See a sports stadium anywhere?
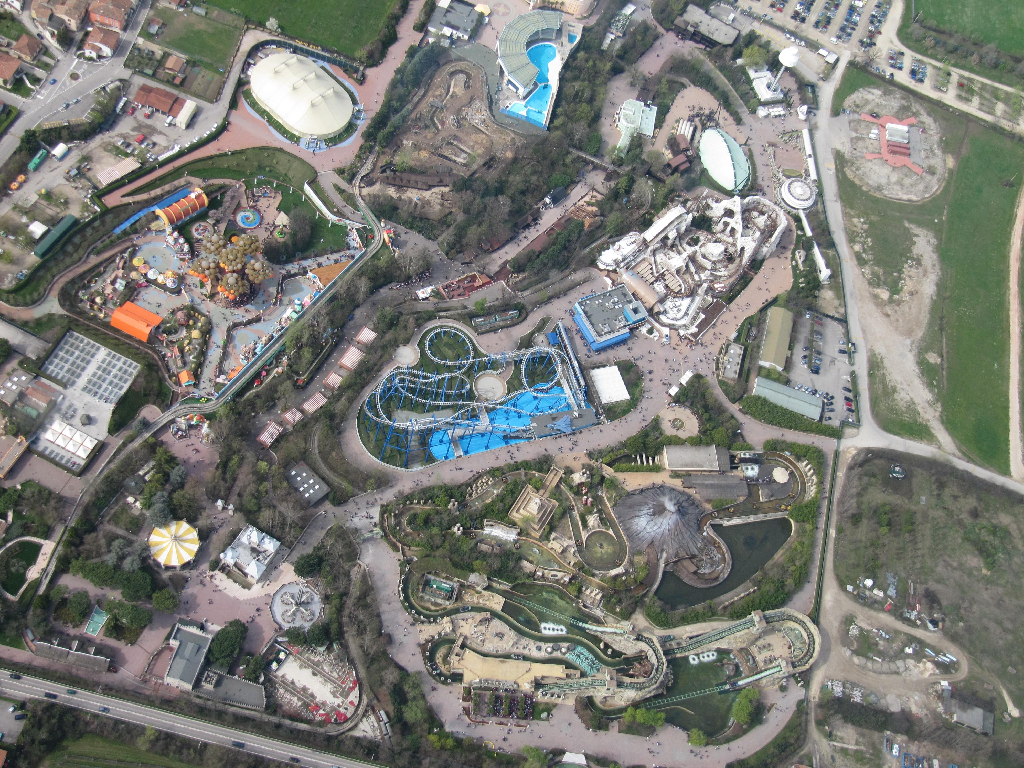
Yes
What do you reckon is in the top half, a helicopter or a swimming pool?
swimming pool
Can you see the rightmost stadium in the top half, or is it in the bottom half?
top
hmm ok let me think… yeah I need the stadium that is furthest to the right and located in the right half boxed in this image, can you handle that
[697,127,751,195]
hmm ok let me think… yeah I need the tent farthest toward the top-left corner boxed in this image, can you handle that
[241,53,359,145]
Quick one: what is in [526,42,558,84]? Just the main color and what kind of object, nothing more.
blue swimming pool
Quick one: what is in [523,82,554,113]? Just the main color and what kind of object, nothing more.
blue swimming pool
